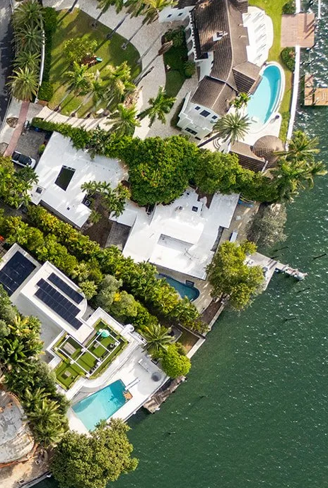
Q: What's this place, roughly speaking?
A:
residential area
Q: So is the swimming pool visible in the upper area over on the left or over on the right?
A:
right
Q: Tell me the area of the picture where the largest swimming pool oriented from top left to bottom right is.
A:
center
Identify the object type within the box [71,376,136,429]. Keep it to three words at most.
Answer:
swimming pool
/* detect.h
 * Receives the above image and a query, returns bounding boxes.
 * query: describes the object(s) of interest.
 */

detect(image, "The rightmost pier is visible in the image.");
[299,75,328,109]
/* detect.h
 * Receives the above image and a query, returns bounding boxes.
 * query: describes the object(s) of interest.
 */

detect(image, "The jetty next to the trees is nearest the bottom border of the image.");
[147,373,187,414]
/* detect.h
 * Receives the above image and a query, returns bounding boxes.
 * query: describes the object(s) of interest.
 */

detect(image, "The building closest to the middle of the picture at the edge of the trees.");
[116,183,240,284]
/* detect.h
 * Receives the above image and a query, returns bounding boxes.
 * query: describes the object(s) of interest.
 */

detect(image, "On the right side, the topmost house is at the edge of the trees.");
[148,0,262,139]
